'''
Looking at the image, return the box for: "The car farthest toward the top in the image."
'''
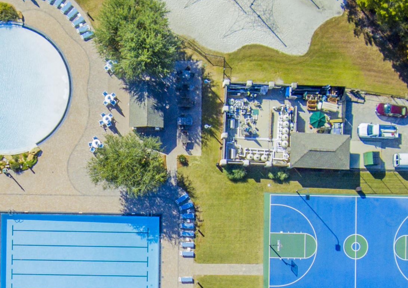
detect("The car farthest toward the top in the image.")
[376,101,408,118]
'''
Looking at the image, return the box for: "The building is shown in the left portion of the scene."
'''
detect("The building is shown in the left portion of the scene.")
[131,78,163,131]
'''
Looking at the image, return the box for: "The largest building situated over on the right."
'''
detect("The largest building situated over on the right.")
[290,133,350,168]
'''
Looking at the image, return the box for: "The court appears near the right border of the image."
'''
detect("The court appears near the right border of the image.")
[263,192,408,288]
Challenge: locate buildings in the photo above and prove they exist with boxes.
[290,133,350,168]
[131,78,163,131]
